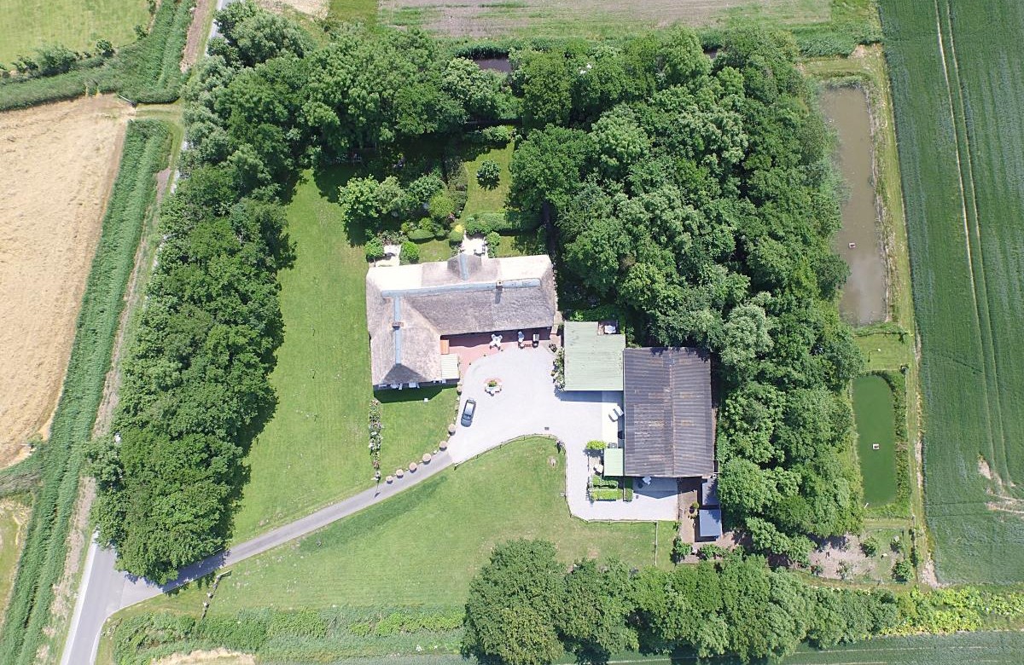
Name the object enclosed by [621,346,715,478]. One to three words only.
barn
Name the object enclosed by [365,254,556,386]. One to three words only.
house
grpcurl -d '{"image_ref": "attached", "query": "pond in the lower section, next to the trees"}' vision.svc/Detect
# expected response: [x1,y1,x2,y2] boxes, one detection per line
[853,373,898,508]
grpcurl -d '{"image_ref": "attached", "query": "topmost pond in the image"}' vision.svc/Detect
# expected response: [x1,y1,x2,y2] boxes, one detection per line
[815,86,888,326]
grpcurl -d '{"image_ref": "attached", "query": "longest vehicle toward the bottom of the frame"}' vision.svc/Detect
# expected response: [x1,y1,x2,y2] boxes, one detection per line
[459,399,475,428]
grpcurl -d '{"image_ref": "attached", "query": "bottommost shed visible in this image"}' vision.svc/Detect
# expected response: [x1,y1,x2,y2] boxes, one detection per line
[696,510,721,537]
